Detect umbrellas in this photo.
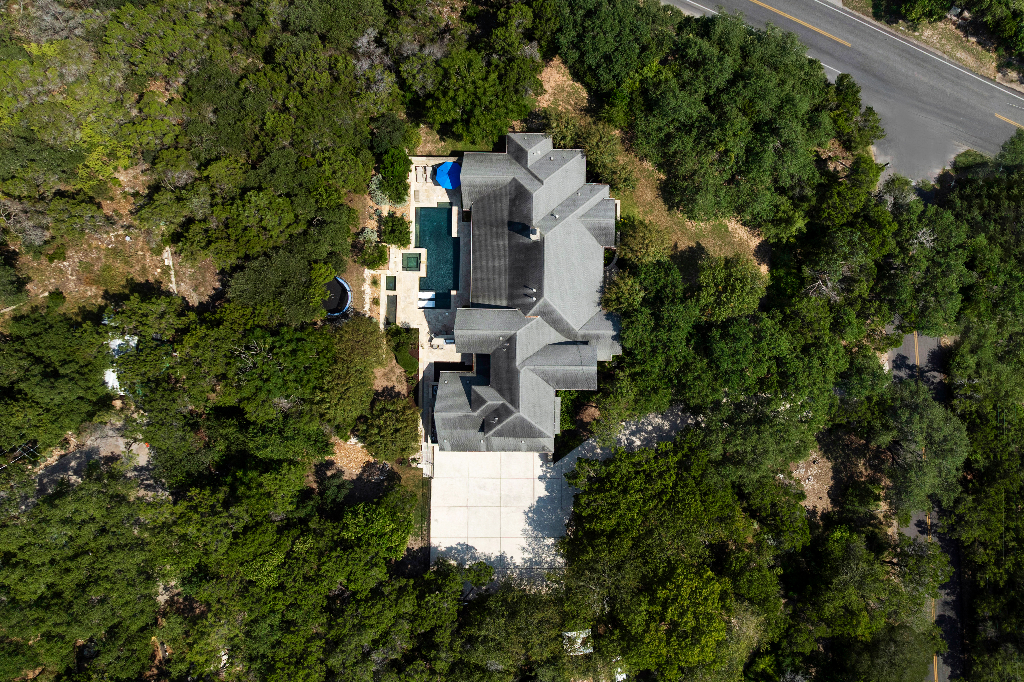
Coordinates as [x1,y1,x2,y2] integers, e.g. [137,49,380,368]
[428,160,461,189]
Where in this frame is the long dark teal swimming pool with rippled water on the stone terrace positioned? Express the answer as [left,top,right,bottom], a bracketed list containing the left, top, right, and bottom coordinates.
[415,202,460,309]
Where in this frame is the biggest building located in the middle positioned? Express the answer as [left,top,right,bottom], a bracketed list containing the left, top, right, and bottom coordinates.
[434,132,623,453]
